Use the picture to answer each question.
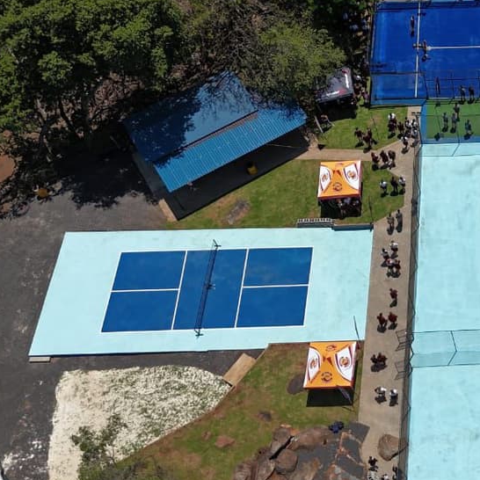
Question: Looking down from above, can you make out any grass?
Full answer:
Yes, grass can be seen from above here.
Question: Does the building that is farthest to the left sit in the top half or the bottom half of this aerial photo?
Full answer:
It is in the top half that the building that is farthest to the left appears.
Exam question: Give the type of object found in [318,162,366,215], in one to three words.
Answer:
tent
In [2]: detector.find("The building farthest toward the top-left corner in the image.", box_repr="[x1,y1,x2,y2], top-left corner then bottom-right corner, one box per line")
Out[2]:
[122,66,309,231]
